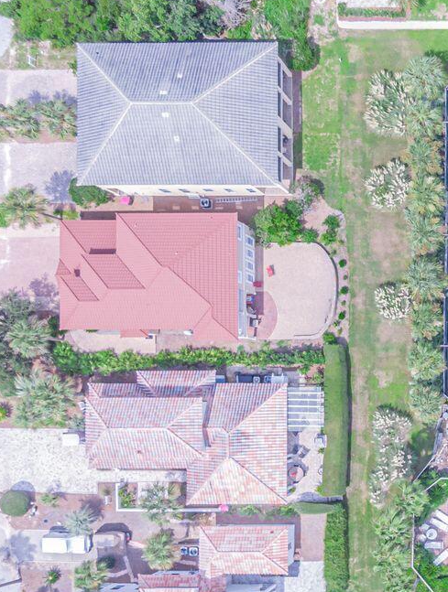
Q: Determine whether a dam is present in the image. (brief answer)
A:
No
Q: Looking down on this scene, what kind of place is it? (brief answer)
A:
residential area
